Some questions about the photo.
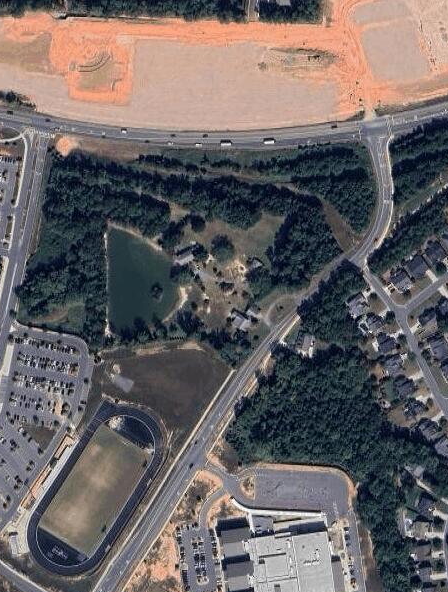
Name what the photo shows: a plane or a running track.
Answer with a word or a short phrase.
running track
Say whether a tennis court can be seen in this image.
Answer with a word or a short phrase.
No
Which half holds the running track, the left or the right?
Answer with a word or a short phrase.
left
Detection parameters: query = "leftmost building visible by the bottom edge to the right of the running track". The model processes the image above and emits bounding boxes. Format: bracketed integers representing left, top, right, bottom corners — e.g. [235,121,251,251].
[221,518,345,592]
